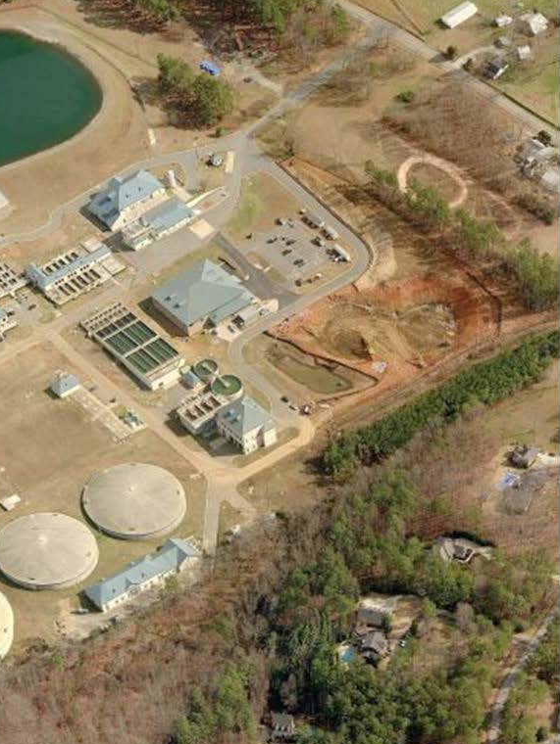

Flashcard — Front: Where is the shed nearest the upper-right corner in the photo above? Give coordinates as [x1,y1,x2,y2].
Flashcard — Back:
[513,14,550,36]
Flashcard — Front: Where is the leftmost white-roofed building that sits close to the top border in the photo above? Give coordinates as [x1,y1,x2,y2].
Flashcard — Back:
[439,5,477,29]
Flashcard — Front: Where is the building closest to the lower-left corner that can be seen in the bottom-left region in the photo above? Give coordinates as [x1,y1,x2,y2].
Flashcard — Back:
[81,540,192,618]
